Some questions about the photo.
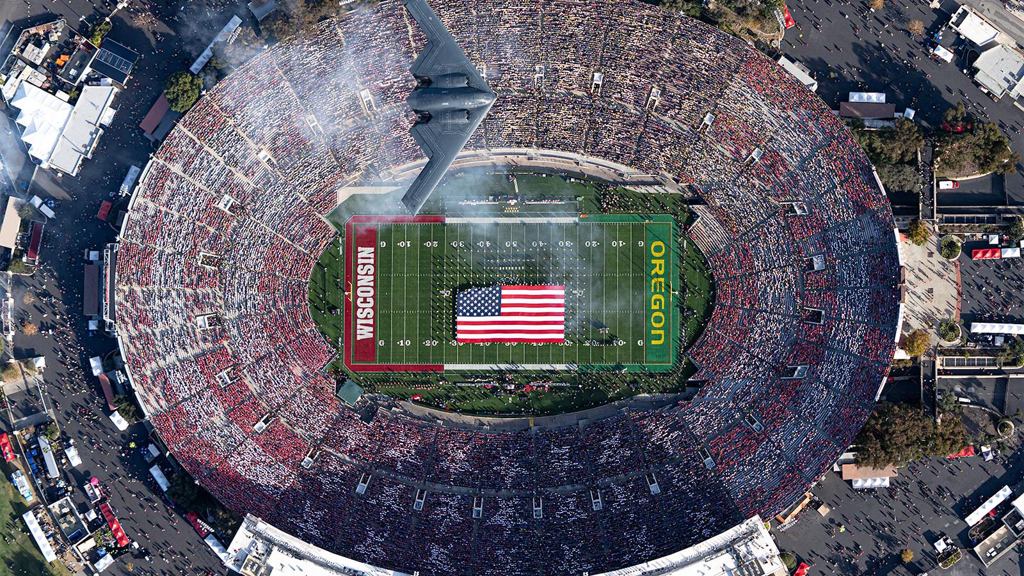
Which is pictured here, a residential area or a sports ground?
sports ground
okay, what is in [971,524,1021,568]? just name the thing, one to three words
building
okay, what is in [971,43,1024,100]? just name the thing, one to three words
building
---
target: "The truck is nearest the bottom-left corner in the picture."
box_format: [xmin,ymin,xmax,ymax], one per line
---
[9,472,31,502]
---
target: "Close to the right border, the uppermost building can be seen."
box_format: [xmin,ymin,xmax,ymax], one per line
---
[945,4,1001,47]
